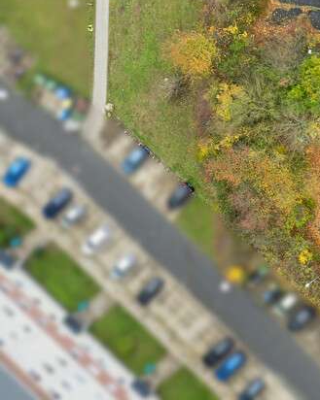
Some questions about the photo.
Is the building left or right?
left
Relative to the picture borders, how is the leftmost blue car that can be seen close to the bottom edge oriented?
diagonally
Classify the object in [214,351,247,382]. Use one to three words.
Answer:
car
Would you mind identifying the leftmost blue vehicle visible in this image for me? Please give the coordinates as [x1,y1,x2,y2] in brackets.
[1,156,34,188]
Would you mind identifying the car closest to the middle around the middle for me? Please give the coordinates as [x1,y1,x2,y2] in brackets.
[163,178,199,213]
